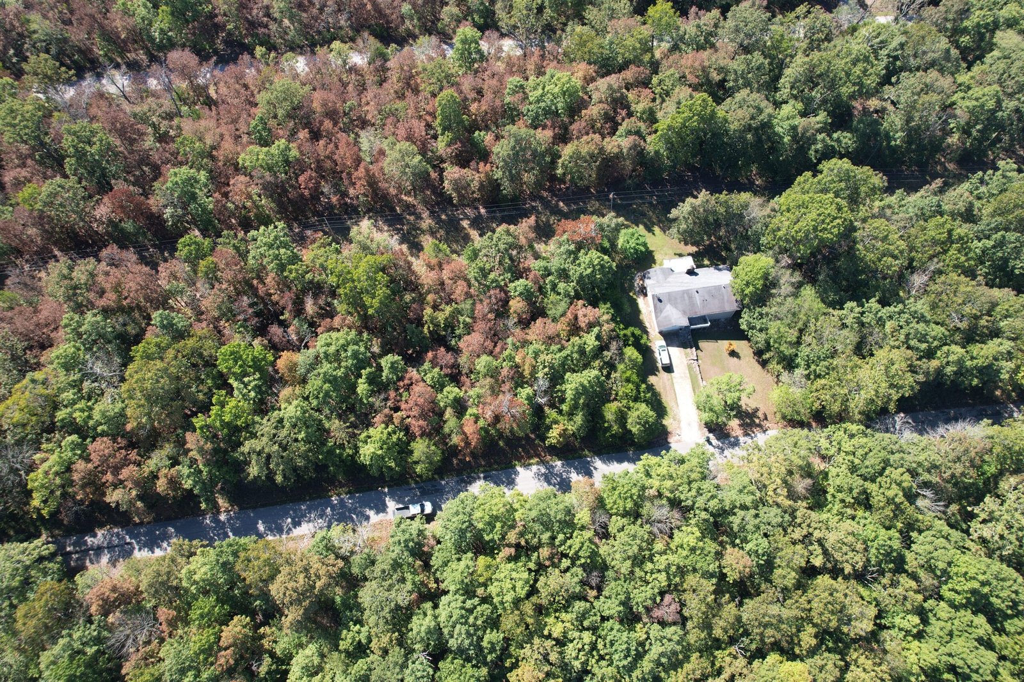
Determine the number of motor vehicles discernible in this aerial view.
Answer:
two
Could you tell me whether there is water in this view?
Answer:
No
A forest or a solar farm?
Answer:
forest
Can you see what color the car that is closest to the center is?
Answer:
white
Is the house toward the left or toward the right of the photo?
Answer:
right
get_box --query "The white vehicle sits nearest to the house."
[651,341,672,370]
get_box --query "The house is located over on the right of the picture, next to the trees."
[641,255,743,347]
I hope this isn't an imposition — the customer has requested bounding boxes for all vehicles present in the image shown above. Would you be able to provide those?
[392,500,434,521]
[651,341,672,370]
